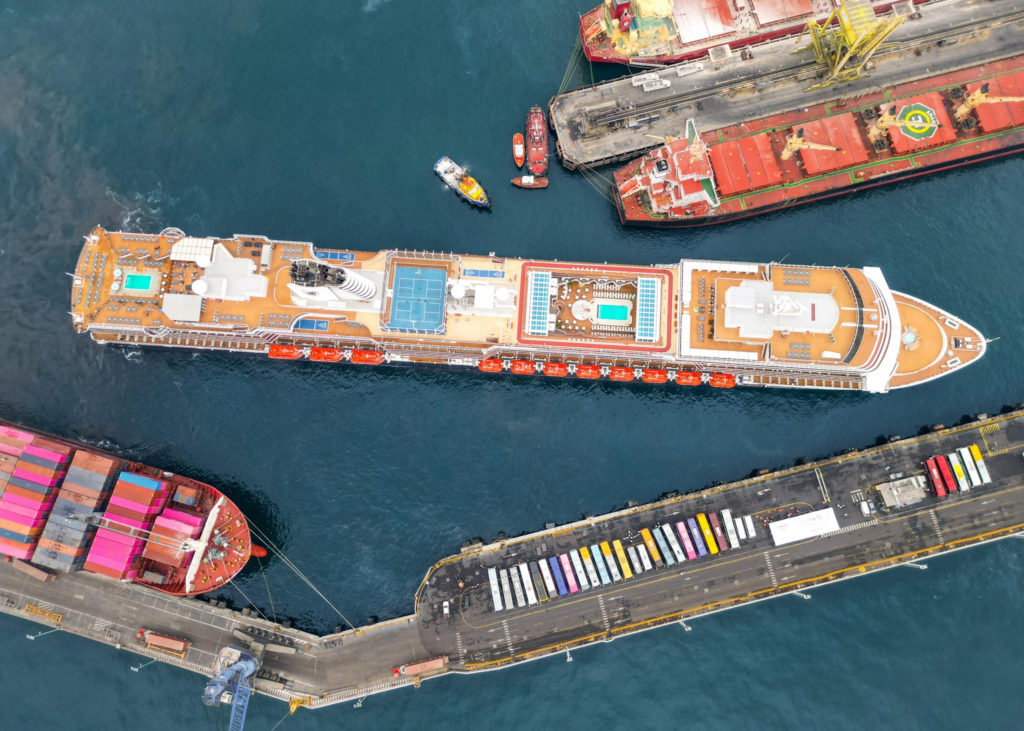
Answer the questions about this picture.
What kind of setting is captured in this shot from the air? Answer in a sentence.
The picture captures a port.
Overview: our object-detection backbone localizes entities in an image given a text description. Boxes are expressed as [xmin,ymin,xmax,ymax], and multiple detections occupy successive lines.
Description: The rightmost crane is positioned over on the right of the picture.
[946,94,1024,124]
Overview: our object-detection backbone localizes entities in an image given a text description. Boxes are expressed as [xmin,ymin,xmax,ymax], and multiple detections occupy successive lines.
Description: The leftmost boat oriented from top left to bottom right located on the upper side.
[430,152,493,209]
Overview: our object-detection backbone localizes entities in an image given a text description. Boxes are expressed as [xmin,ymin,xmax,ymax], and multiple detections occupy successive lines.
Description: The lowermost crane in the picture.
[201,626,307,731]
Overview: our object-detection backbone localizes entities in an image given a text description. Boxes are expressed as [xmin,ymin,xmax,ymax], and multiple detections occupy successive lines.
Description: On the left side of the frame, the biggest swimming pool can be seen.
[120,268,162,297]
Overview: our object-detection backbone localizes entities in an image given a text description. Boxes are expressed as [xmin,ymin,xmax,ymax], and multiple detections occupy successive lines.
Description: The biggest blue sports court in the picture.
[390,264,447,331]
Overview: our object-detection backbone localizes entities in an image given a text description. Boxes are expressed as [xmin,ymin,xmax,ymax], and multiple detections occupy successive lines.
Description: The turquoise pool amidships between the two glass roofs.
[589,298,633,326]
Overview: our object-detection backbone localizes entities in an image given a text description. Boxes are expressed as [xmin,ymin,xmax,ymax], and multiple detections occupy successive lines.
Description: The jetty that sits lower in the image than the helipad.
[0,409,1024,709]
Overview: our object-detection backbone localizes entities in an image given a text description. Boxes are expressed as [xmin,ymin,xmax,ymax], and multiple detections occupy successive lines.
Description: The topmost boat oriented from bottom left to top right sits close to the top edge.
[578,14,609,47]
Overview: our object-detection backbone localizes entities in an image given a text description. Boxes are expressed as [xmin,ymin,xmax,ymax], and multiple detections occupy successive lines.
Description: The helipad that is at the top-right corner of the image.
[897,100,939,143]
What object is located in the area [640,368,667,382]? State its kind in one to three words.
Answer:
boat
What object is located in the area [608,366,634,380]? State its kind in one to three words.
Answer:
boat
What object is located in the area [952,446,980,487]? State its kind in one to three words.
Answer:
bus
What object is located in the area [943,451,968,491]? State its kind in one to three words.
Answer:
bus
